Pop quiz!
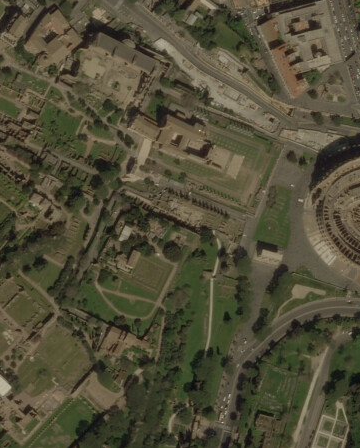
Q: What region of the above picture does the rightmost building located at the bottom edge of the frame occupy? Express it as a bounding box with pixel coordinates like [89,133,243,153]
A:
[255,416,281,448]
